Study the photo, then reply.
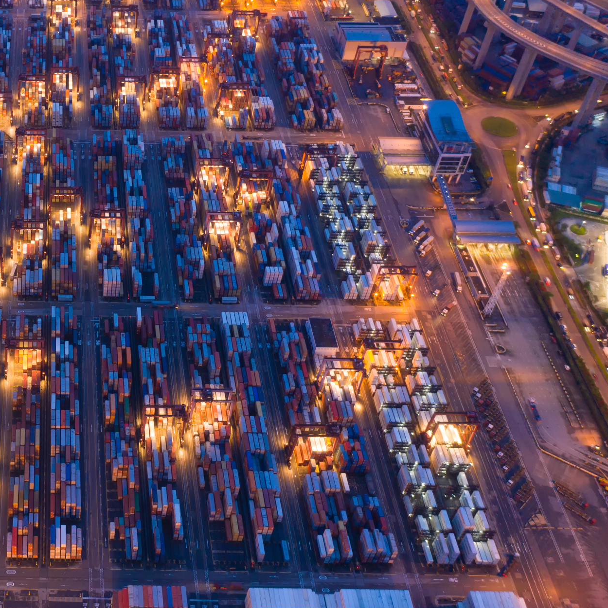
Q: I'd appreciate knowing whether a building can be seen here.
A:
Yes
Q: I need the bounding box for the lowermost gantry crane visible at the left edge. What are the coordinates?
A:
[1,338,45,378]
